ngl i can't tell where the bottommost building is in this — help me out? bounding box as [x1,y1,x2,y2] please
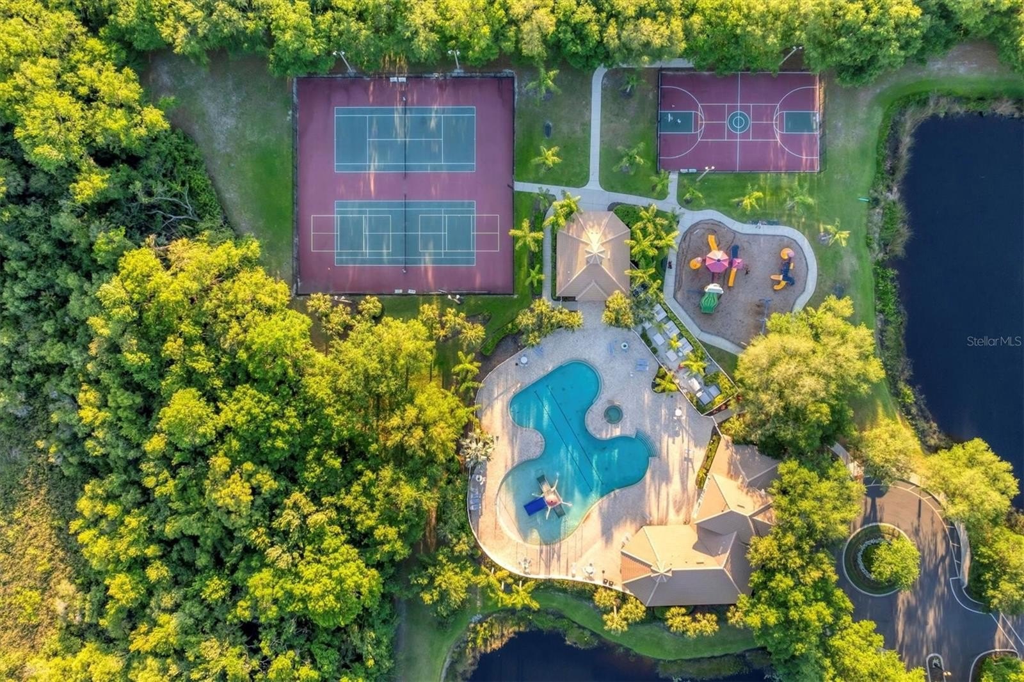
[620,435,776,607]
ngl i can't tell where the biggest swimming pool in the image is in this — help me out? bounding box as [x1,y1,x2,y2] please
[495,359,660,548]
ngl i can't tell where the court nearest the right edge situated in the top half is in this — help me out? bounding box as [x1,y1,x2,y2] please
[659,72,820,172]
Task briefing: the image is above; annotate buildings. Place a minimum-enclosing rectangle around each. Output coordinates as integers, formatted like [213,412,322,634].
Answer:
[620,435,776,607]
[556,211,631,301]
